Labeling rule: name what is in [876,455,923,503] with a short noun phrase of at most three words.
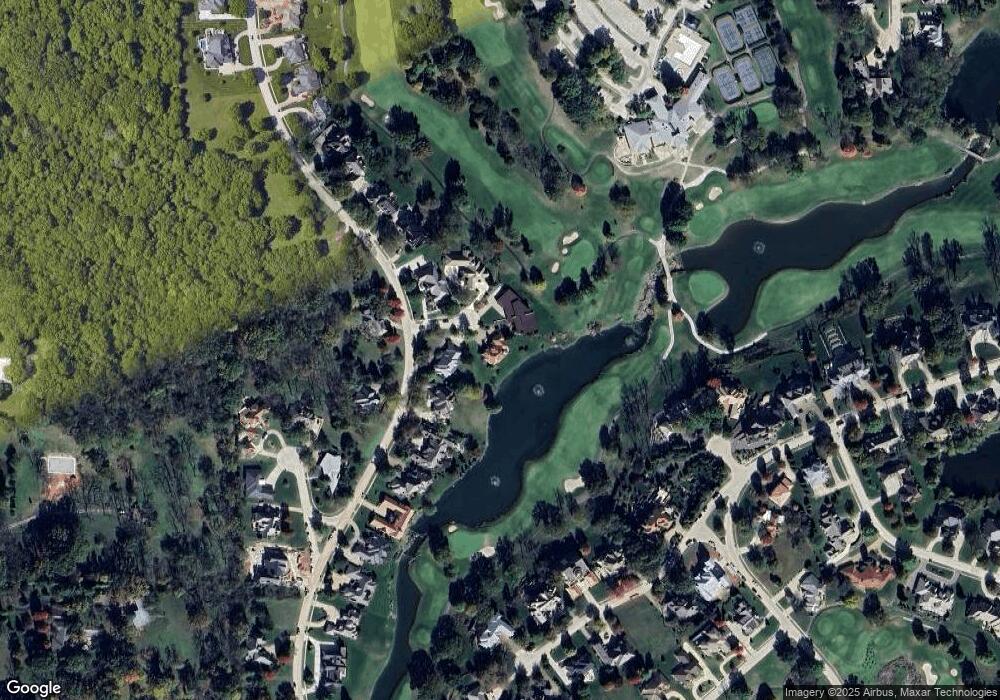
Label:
house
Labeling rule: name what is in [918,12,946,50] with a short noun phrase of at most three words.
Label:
house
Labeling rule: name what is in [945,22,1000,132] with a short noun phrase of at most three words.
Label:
pond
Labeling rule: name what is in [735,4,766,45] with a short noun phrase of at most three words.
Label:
tennis court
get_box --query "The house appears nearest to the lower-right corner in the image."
[964,599,1000,637]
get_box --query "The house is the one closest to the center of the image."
[480,335,511,367]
